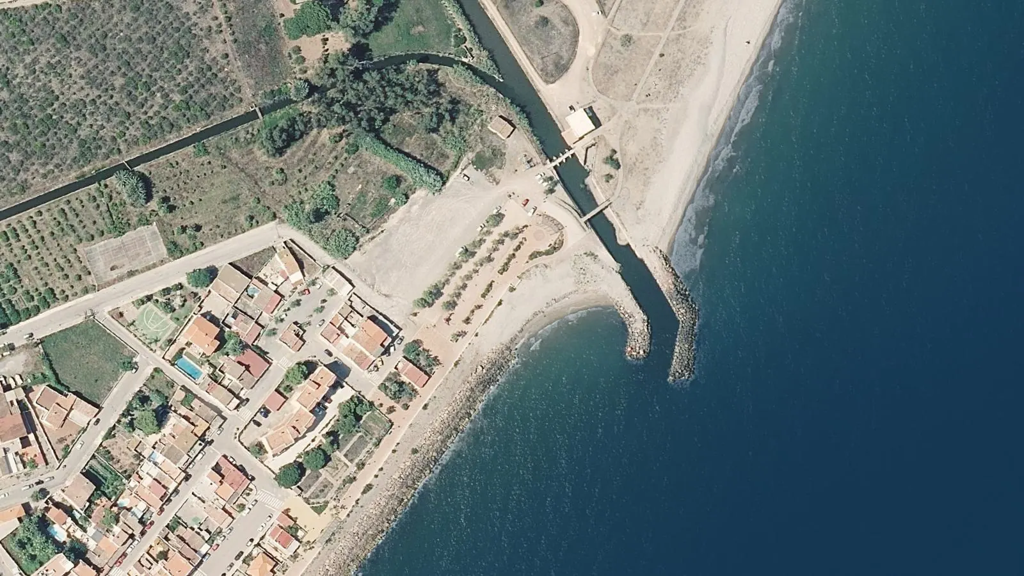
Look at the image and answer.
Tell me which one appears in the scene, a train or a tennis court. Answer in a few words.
tennis court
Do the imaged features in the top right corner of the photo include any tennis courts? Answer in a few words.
No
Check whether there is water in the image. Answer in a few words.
Yes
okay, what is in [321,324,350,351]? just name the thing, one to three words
house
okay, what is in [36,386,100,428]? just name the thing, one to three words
house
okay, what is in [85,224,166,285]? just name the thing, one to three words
tennis court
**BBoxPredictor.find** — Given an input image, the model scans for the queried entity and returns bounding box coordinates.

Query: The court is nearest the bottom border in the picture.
[134,303,177,347]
